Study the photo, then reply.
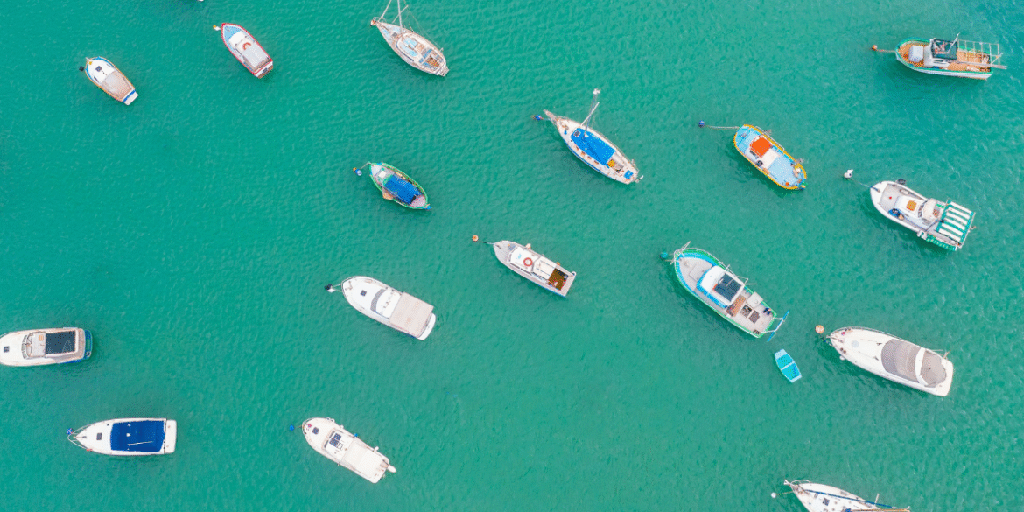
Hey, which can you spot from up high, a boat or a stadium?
boat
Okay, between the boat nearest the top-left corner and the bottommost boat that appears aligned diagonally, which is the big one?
the bottommost boat that appears aligned diagonally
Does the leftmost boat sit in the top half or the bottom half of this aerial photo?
bottom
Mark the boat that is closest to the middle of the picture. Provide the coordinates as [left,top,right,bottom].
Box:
[493,240,576,298]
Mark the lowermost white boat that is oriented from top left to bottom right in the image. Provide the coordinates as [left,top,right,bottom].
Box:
[298,417,396,482]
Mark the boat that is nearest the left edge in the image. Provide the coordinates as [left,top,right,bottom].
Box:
[0,327,95,367]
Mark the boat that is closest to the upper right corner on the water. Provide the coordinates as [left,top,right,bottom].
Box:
[893,29,1007,79]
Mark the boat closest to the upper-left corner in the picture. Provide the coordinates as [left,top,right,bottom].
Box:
[83,56,138,104]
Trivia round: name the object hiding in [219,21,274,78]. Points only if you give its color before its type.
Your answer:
white boat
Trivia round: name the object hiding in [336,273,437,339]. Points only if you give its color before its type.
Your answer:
white boat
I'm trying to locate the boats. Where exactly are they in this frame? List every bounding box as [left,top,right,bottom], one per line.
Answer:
[219,21,274,78]
[298,417,396,482]
[544,90,645,188]
[829,325,952,397]
[784,479,912,512]
[866,182,975,250]
[0,327,95,367]
[366,160,431,214]
[673,240,789,341]
[734,126,805,194]
[775,350,802,382]
[493,240,576,298]
[83,56,138,104]
[374,0,449,78]
[63,418,178,455]
[336,273,437,339]
[893,29,1007,79]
